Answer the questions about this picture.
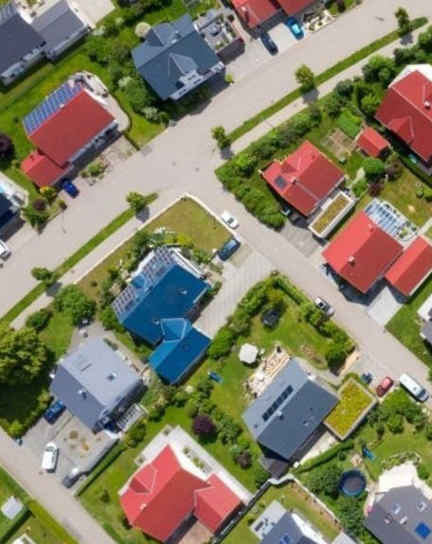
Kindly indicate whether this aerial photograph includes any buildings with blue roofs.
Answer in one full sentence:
Yes, there is a building with a blue roof in the image.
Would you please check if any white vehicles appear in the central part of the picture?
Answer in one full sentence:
Yes, a white vehicle is visible in the central part of the picture.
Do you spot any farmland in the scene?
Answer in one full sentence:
No, there's no farmland in this view.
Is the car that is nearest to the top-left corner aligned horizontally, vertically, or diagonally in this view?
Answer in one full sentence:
In this picture, the car that is nearest to the top-left corner lies diagonally.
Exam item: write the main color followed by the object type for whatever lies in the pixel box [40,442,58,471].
white vehicle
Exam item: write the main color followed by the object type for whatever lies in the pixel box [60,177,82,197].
blue car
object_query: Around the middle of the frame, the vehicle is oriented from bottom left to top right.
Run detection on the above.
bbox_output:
[217,238,240,260]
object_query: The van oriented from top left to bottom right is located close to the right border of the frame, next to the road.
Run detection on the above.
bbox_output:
[396,371,430,403]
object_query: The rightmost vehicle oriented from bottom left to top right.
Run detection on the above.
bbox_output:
[374,375,395,397]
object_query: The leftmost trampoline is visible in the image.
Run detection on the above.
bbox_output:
[259,309,278,326]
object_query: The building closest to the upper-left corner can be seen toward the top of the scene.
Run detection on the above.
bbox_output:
[0,0,92,82]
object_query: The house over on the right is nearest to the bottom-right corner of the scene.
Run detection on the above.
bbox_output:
[368,480,432,544]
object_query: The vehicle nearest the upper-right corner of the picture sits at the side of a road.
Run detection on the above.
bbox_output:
[285,17,304,37]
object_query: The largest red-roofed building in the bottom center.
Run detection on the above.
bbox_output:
[120,445,245,542]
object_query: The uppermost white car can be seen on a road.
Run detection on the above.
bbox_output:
[220,209,241,229]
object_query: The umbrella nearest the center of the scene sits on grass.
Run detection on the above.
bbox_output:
[240,343,259,362]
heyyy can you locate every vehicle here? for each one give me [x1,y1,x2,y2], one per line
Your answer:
[60,177,82,197]
[220,209,241,229]
[314,298,335,317]
[374,375,395,397]
[217,238,240,260]
[44,401,66,422]
[396,371,430,403]
[285,17,304,37]
[59,465,84,491]
[260,33,278,53]
[40,442,58,471]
